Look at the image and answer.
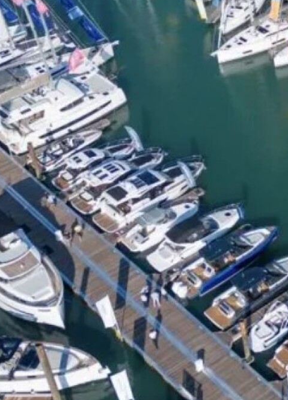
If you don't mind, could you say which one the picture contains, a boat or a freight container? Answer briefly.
boat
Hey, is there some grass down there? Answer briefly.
No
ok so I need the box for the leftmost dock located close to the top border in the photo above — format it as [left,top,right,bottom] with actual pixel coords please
[196,0,238,25]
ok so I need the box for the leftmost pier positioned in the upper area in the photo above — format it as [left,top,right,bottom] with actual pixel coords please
[28,122,111,172]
